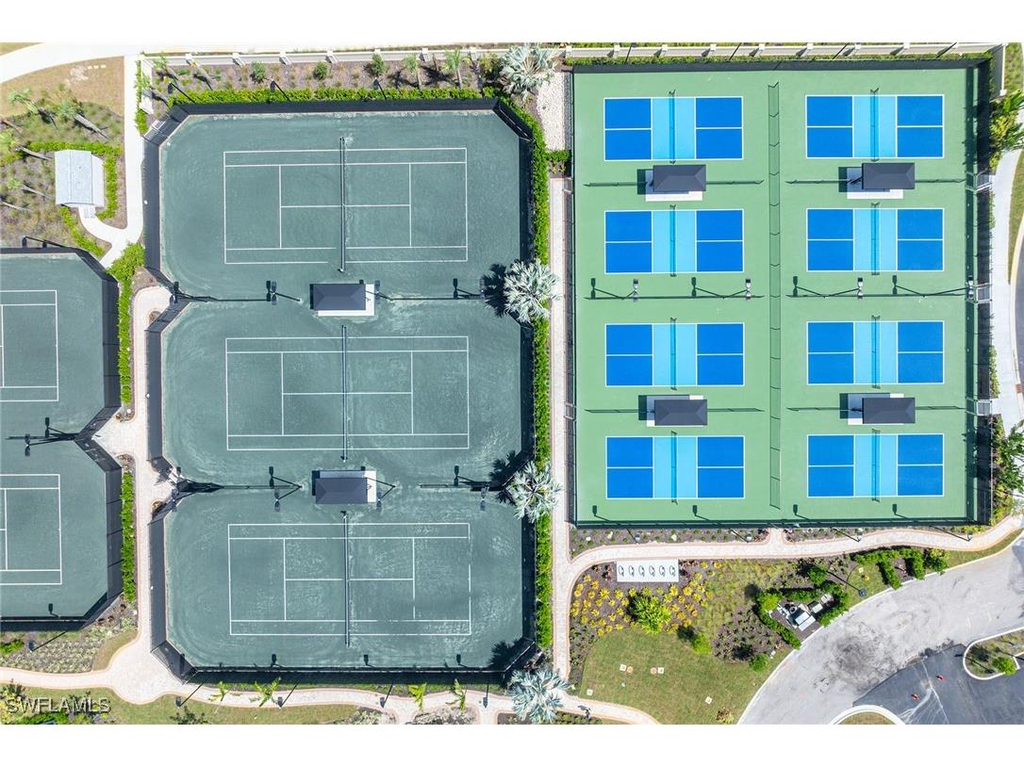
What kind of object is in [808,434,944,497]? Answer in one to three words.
sports court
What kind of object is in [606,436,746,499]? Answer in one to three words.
sports court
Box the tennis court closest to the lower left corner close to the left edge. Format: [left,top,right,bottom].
[0,440,122,620]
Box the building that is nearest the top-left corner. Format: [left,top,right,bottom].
[56,148,104,207]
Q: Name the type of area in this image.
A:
sports ground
